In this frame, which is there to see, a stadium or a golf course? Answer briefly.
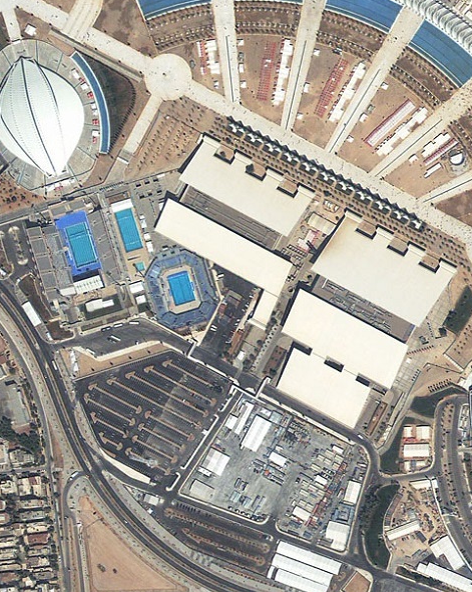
stadium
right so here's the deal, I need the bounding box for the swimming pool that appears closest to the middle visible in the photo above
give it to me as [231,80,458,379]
[110,208,148,286]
